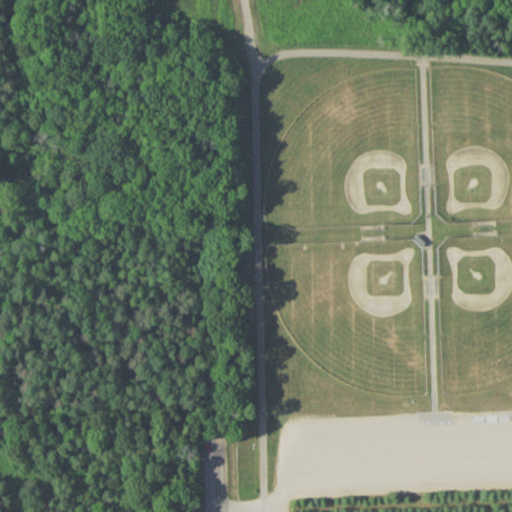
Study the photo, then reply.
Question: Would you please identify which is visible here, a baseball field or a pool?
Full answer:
It is a baseball field that can be seen here.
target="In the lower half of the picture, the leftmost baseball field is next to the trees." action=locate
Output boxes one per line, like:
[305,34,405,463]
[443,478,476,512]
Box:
[264,240,426,397]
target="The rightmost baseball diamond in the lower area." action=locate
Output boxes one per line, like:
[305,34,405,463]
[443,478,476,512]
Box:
[438,234,512,396]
